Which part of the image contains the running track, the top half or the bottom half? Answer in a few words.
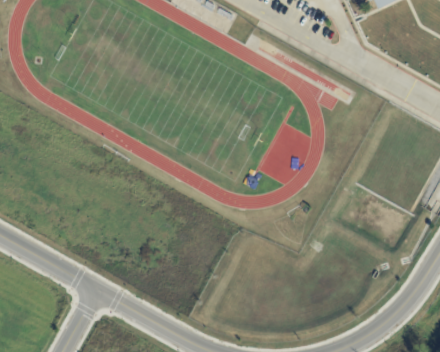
top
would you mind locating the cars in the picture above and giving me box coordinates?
[281,5,288,14]
[312,23,320,32]
[322,26,329,36]
[314,10,320,20]
[272,0,279,9]
[326,30,334,39]
[276,2,284,12]
[300,16,306,25]
[309,8,316,17]
[301,2,308,11]
[318,12,324,21]
[305,5,312,15]
[296,0,304,8]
